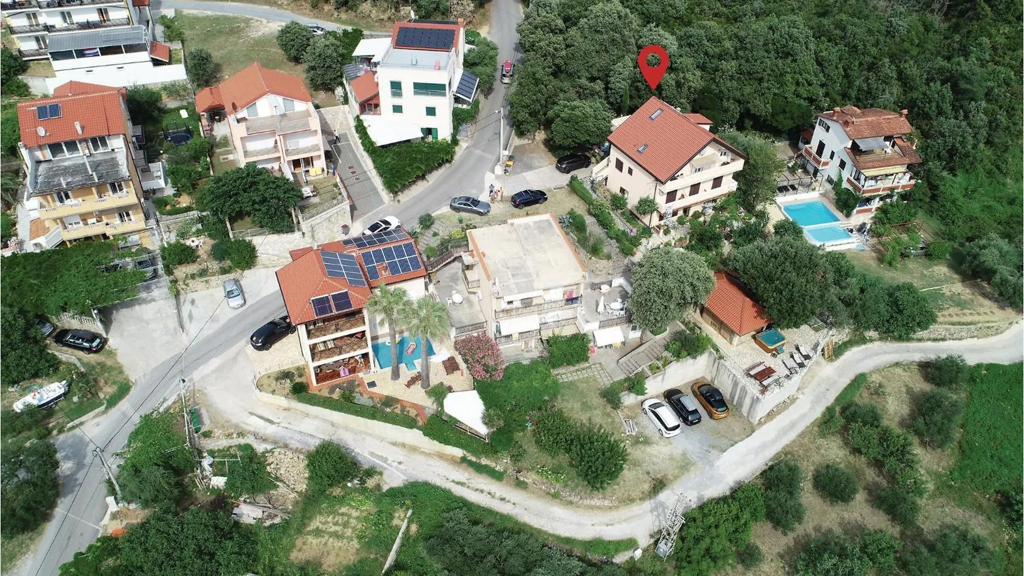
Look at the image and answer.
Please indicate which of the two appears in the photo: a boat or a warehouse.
boat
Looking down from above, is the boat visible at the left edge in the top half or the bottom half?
bottom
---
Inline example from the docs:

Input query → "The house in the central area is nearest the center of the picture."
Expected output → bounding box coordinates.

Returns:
[447,205,589,355]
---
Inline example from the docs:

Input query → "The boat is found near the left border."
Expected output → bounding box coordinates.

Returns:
[4,373,72,416]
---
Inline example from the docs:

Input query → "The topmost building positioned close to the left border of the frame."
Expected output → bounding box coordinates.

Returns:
[0,0,195,97]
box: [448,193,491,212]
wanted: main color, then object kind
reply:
gray car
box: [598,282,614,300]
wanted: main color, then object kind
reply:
white umbrella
